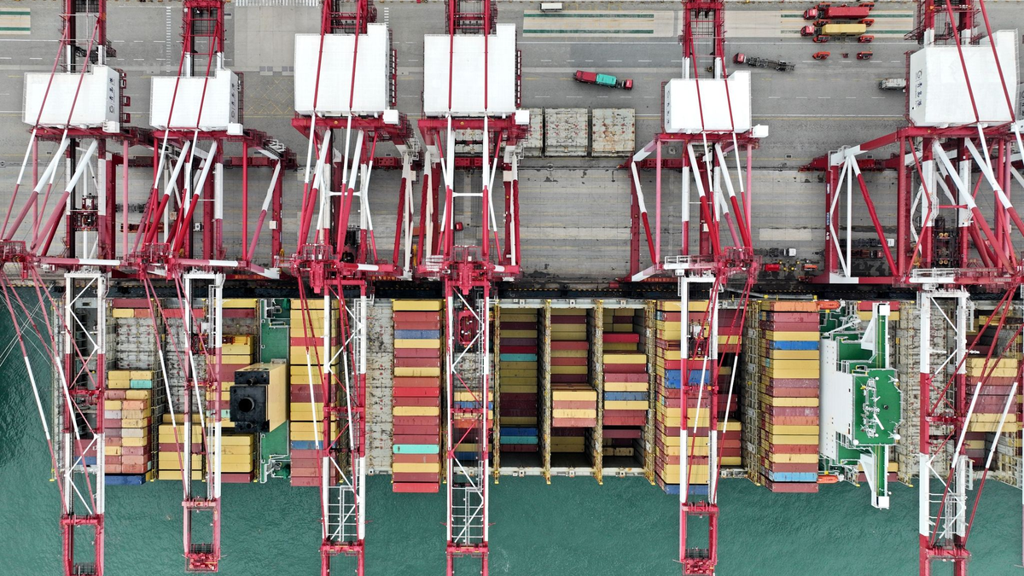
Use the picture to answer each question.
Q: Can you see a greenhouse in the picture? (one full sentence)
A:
No, there's no greenhouse here.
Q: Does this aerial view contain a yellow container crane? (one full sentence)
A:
No, this view has no yellow container crane in it.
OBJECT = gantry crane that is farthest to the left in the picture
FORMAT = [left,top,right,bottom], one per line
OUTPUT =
[0,0,206,576]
